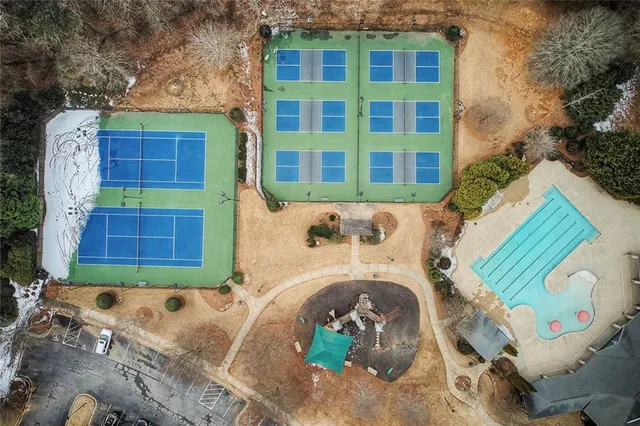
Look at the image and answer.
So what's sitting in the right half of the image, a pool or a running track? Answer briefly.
pool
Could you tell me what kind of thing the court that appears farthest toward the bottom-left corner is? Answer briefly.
tennis court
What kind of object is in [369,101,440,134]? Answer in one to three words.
sports court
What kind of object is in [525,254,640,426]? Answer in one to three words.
building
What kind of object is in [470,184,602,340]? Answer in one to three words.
swimming pool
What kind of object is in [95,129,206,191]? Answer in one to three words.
tennis court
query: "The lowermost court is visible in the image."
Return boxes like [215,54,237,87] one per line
[72,206,205,267]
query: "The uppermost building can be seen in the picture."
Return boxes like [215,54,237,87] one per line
[340,219,372,235]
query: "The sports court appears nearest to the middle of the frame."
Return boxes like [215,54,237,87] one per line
[275,150,346,183]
